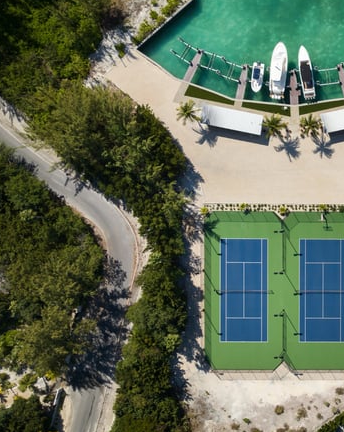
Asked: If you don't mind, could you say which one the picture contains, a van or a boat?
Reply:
boat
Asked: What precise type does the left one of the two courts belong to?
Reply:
tennis court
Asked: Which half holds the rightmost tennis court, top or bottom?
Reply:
bottom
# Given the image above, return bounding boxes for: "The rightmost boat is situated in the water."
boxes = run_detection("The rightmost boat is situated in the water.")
[298,44,316,99]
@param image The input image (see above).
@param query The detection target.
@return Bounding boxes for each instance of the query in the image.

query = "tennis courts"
[204,212,284,370]
[284,212,344,370]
